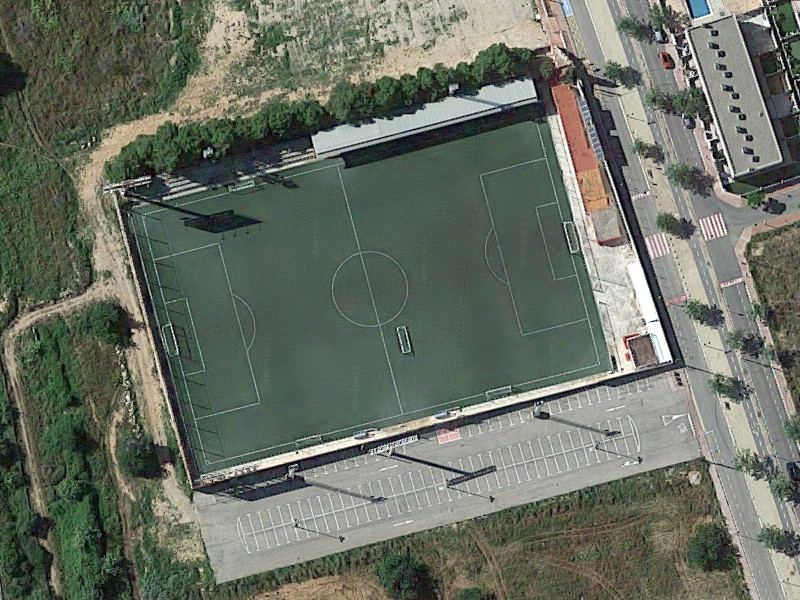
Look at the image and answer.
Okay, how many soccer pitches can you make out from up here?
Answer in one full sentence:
Altogether the scene contains 1 soccer pitch.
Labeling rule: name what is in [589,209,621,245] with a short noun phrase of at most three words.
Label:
building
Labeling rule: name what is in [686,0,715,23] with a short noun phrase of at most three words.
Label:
swimming pool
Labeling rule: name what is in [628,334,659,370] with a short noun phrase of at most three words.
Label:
building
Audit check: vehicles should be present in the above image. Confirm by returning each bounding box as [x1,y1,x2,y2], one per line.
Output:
[683,112,694,130]
[662,51,673,69]
[652,26,664,44]
[788,460,799,479]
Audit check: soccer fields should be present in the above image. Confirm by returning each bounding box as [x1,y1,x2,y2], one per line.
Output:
[122,108,612,473]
